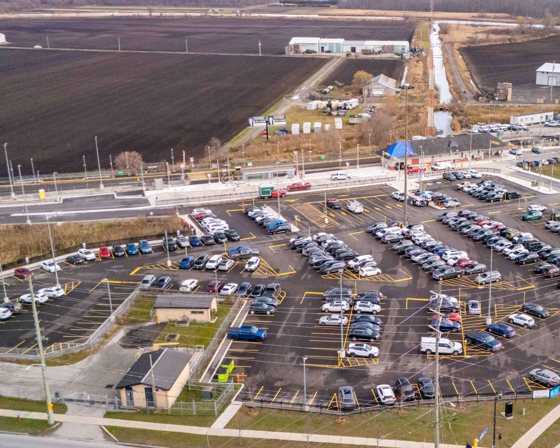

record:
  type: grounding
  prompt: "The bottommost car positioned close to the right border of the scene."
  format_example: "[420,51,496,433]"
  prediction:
[528,371,560,388]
